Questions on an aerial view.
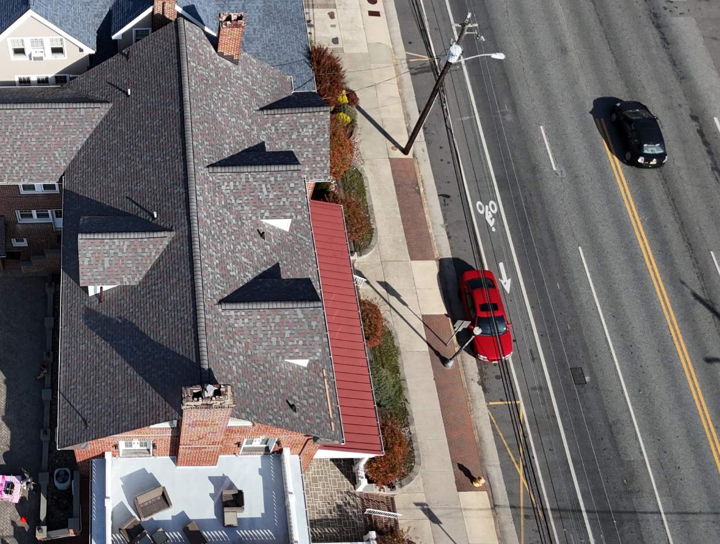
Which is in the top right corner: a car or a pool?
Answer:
car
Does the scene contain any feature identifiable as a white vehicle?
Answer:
No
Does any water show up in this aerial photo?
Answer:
No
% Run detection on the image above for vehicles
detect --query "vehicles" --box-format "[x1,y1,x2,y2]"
[608,101,667,172]
[456,271,512,363]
